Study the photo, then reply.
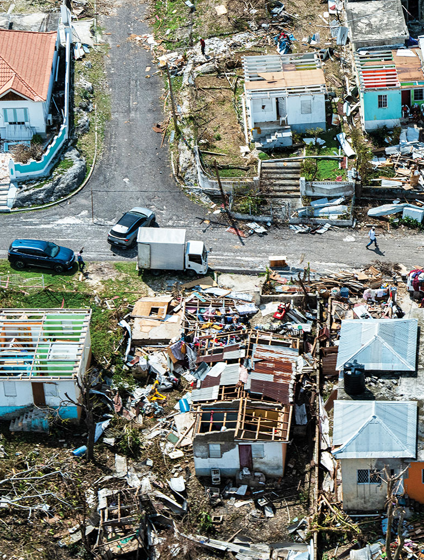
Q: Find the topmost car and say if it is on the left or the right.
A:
left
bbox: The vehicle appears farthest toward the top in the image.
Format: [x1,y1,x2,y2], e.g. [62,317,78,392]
[108,202,167,246]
